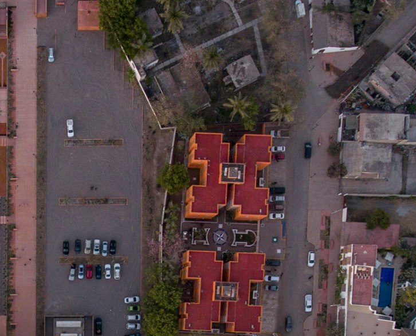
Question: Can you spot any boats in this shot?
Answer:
No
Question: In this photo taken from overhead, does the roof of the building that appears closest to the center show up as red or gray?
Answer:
red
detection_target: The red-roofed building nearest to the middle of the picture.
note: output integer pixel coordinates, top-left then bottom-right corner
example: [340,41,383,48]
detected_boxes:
[184,133,272,221]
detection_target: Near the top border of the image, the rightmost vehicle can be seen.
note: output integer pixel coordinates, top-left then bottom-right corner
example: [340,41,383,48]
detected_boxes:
[295,0,307,19]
